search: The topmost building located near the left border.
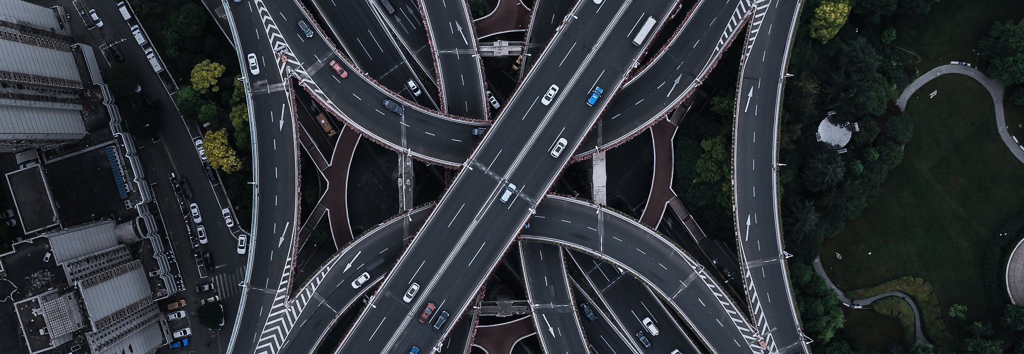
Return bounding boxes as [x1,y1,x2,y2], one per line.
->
[0,0,92,150]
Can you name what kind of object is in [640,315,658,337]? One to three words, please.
car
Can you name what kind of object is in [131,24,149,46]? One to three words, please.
vehicle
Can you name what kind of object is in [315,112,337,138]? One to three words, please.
vehicle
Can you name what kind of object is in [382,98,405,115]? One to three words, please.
car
